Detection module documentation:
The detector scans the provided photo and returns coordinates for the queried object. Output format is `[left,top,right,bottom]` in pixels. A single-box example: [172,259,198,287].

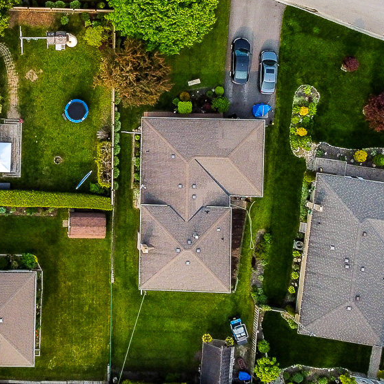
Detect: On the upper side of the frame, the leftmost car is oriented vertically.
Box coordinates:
[228,37,251,85]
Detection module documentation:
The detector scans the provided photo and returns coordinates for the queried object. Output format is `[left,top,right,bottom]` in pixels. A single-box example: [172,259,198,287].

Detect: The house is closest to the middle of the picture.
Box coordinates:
[120,116,266,294]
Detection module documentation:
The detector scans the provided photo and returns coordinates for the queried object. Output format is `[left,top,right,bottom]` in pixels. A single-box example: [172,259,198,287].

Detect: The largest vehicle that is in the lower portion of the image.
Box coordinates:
[228,314,248,347]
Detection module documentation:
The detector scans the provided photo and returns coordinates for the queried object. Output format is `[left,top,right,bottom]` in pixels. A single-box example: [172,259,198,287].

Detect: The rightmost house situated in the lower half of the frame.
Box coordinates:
[290,173,384,348]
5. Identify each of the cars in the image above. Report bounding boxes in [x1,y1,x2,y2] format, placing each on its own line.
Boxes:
[256,50,278,94]
[228,37,251,85]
